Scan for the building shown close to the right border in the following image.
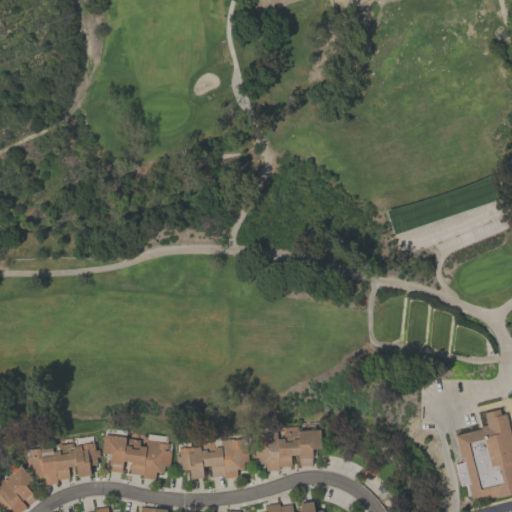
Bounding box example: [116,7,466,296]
[458,409,512,498]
